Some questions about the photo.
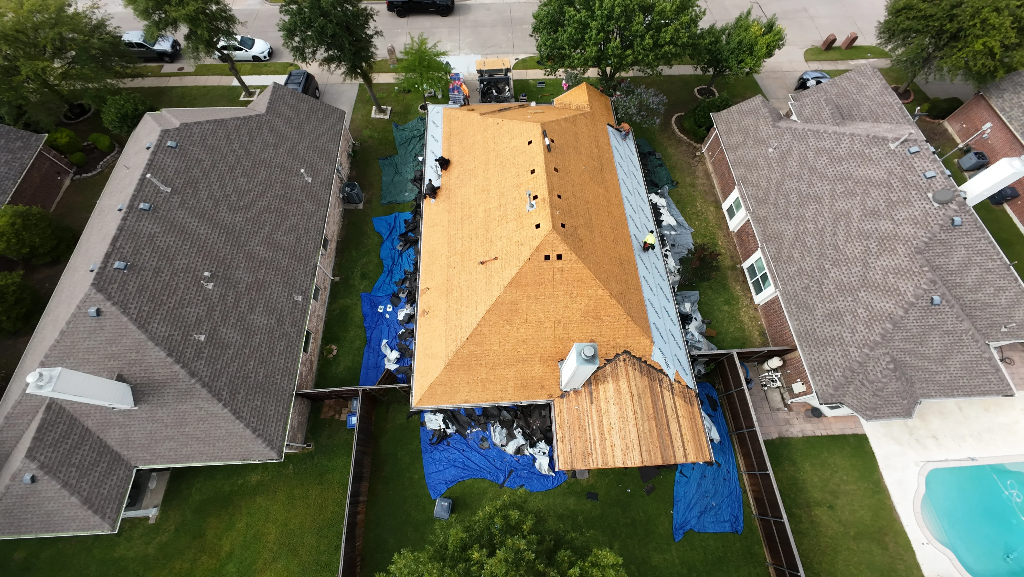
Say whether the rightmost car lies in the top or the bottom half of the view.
top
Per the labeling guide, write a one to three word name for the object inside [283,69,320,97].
car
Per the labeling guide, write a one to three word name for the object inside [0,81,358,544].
house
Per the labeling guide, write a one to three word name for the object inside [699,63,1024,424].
house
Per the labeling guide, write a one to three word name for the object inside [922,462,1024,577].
swimming pool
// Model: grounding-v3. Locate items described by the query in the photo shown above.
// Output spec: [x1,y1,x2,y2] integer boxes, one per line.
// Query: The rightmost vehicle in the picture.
[792,67,830,91]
